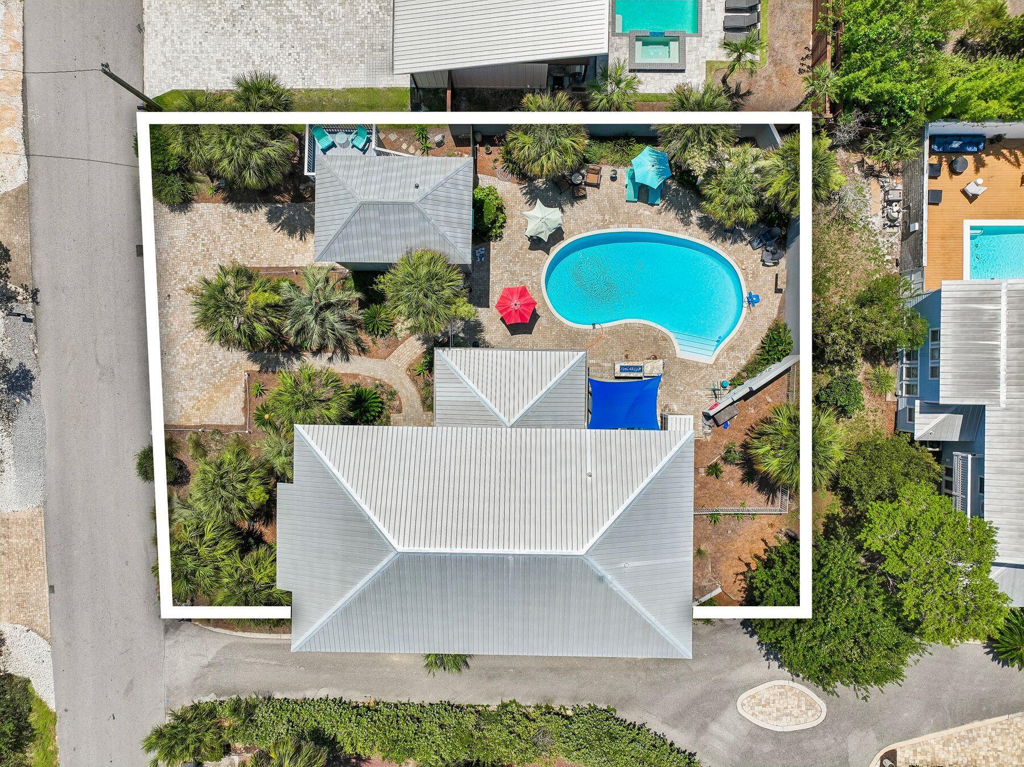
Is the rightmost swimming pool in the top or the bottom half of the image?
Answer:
top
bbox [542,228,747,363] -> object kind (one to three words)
swimming pool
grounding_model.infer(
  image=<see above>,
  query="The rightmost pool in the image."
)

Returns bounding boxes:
[964,219,1024,279]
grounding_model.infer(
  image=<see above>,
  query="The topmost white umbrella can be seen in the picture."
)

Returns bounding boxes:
[523,200,561,241]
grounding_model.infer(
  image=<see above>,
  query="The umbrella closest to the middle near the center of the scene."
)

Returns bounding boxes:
[495,286,537,324]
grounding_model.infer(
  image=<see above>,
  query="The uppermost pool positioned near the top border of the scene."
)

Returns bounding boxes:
[612,0,702,36]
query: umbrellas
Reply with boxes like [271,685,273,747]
[631,148,671,189]
[495,286,537,324]
[523,200,561,241]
